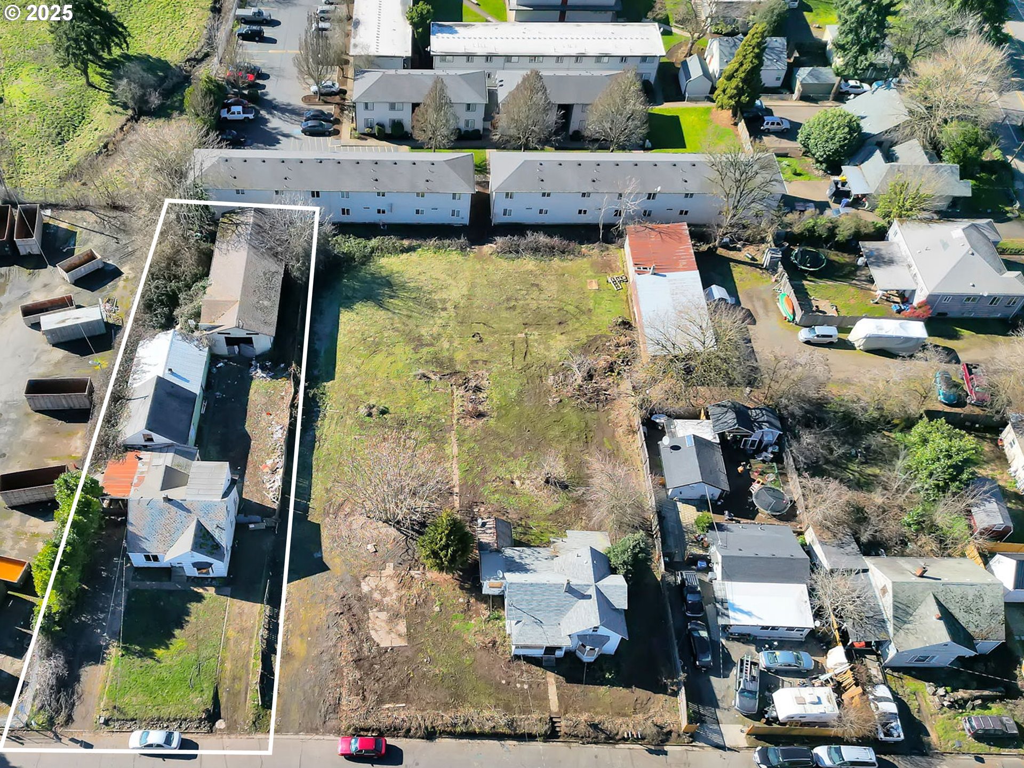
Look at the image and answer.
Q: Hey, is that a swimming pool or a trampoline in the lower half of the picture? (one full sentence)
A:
The feature located in the lower half of the picture is a trampoline.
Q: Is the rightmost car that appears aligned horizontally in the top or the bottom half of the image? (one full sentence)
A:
The rightmost car that appears aligned horizontally is in the bottom half of the image.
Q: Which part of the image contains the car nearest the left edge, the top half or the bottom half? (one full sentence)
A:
You can find the car nearest the left edge in the bottom half.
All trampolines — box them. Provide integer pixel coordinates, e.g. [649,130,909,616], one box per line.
[756,490,793,520]
[793,243,831,276]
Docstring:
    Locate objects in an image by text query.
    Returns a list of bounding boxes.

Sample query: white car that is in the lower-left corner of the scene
[126,731,182,757]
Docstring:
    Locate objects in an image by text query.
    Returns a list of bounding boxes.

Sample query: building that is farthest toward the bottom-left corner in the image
[107,449,253,585]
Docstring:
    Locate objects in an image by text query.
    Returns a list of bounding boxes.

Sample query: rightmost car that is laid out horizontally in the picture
[961,719,1024,746]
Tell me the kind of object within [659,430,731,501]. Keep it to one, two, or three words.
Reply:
building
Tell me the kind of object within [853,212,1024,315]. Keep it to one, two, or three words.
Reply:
house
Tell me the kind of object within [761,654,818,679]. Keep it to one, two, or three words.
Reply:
car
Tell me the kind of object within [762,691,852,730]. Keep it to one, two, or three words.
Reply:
trailer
